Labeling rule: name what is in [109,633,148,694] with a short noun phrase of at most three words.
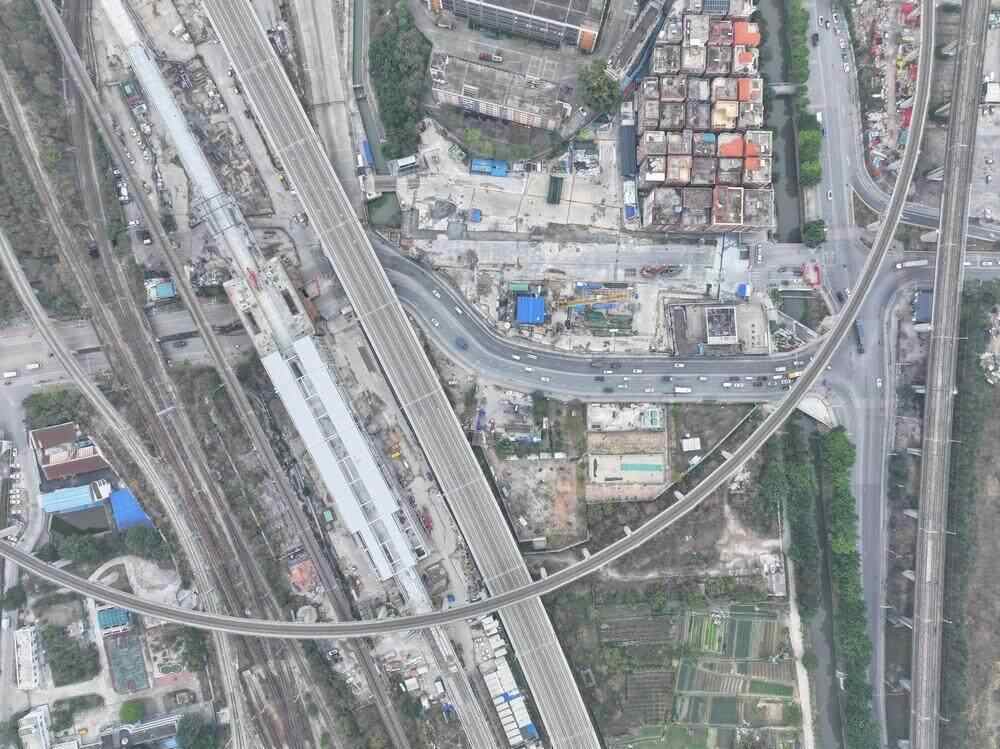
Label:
basketball court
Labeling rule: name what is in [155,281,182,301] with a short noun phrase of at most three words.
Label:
house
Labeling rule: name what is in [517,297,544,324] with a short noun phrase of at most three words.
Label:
building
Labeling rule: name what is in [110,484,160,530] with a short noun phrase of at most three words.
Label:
shed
